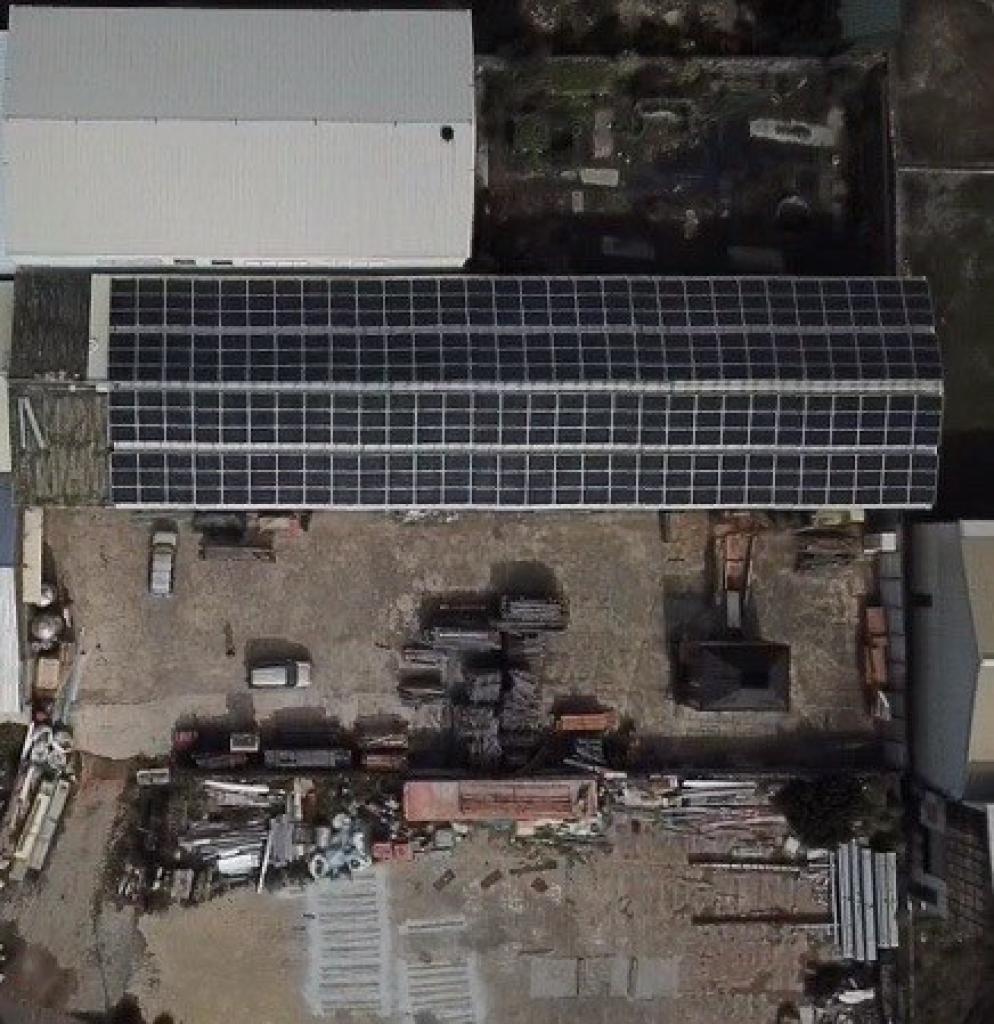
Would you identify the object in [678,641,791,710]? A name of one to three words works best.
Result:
shed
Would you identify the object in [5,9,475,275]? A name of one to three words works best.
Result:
warehouse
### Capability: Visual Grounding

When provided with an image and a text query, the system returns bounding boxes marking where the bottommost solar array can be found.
[111,453,938,505]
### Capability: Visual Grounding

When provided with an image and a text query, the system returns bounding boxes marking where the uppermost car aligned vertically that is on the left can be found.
[150,530,181,596]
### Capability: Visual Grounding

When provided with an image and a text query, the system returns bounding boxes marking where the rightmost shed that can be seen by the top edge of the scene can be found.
[828,0,900,62]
